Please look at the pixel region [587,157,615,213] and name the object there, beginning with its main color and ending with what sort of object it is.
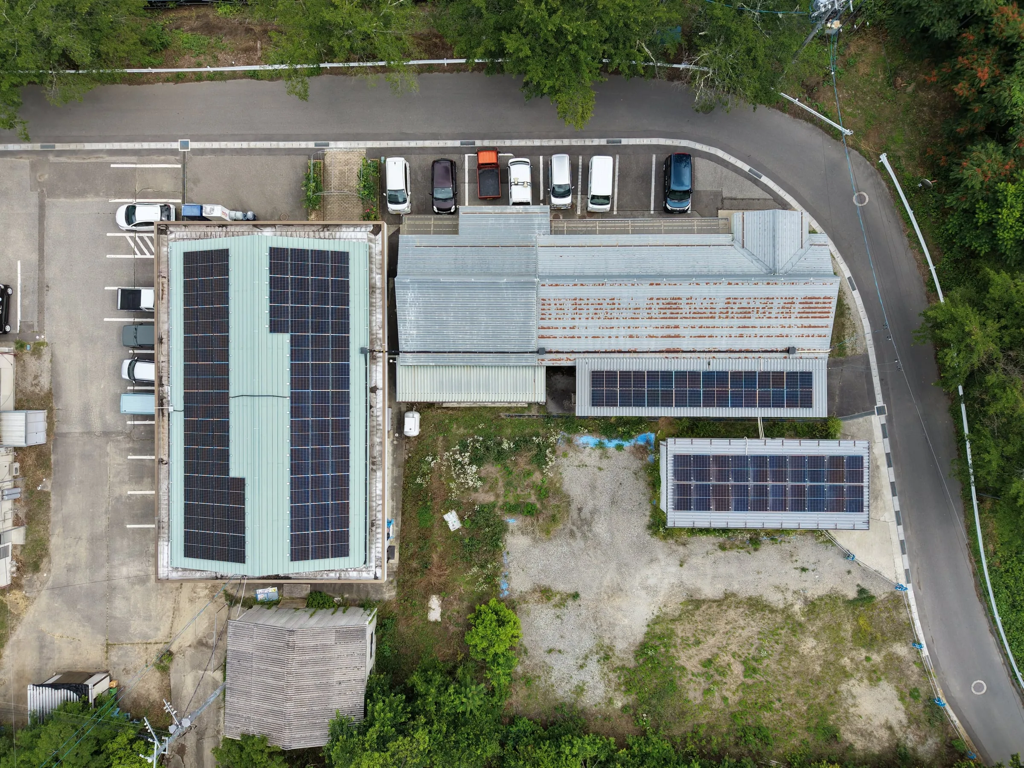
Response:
white car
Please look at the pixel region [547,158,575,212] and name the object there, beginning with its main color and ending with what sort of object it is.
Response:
white car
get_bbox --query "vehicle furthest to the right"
[662,155,695,214]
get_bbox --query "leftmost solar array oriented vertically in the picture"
[181,248,248,564]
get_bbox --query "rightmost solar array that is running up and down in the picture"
[265,247,352,562]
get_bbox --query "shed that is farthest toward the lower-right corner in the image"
[655,437,871,531]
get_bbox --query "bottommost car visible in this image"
[120,392,154,415]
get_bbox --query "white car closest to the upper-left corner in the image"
[115,200,182,233]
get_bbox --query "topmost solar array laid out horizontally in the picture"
[591,369,815,410]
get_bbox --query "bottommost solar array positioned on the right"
[673,453,866,512]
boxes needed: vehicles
[115,200,182,233]
[662,155,695,214]
[121,356,154,385]
[547,158,575,212]
[119,322,154,350]
[474,147,502,201]
[120,392,154,415]
[506,158,535,207]
[430,162,458,213]
[587,157,615,213]
[384,161,412,215]
[113,287,154,311]
[0,283,14,334]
